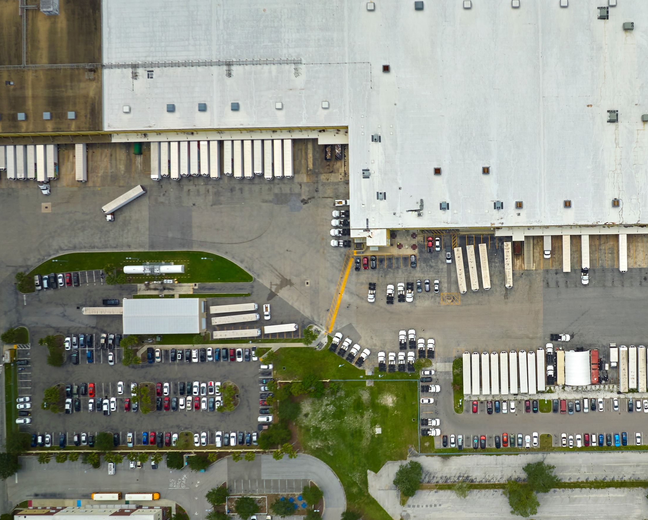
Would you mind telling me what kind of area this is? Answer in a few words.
industrial area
